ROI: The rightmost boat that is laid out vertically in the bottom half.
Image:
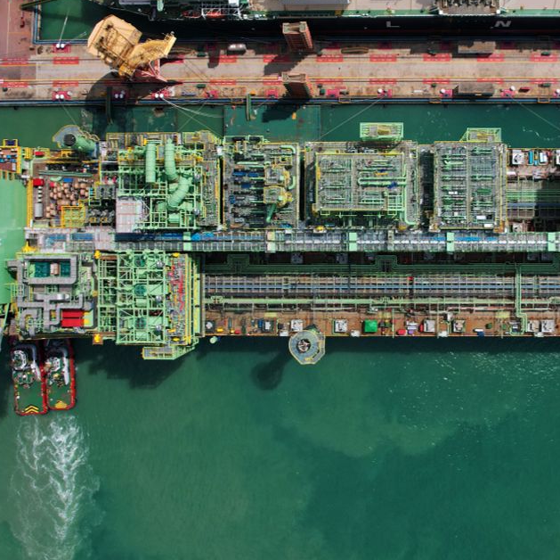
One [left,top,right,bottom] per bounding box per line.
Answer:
[43,338,79,411]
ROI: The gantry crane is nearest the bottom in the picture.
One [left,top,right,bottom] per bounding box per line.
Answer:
[88,14,177,85]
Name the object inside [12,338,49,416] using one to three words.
boat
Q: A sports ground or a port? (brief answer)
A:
port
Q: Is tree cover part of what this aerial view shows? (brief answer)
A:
No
